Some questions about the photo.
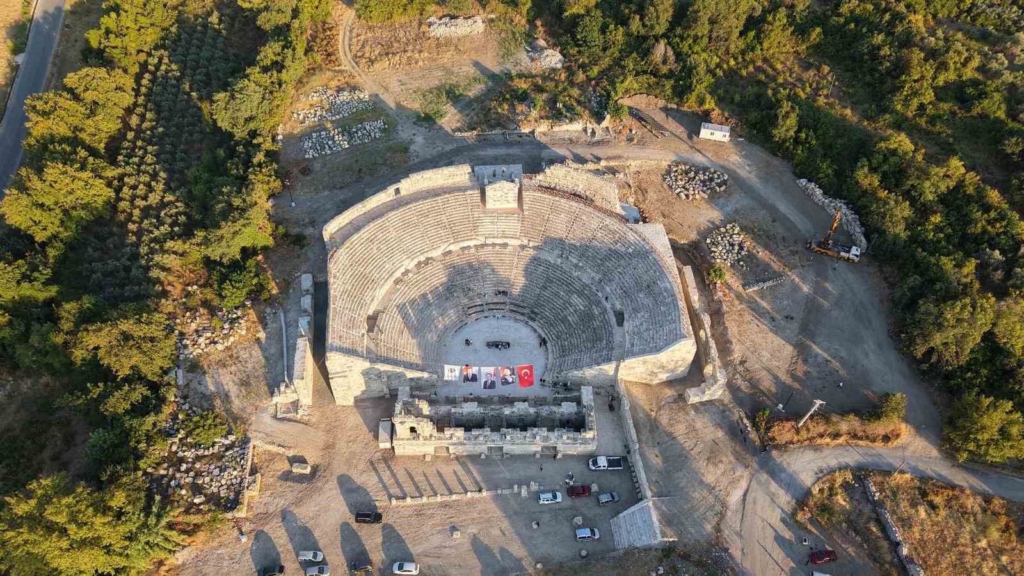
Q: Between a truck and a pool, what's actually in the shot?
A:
truck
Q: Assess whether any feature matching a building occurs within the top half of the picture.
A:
No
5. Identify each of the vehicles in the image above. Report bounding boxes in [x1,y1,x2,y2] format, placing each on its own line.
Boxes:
[808,214,862,265]
[574,527,600,541]
[258,564,288,576]
[596,491,620,506]
[304,564,333,576]
[538,491,562,504]
[297,549,326,563]
[347,559,376,574]
[565,485,592,498]
[809,570,837,576]
[588,455,622,469]
[393,561,419,575]
[354,510,382,524]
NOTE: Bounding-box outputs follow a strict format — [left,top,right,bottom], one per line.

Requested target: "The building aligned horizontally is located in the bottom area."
[388,377,601,461]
